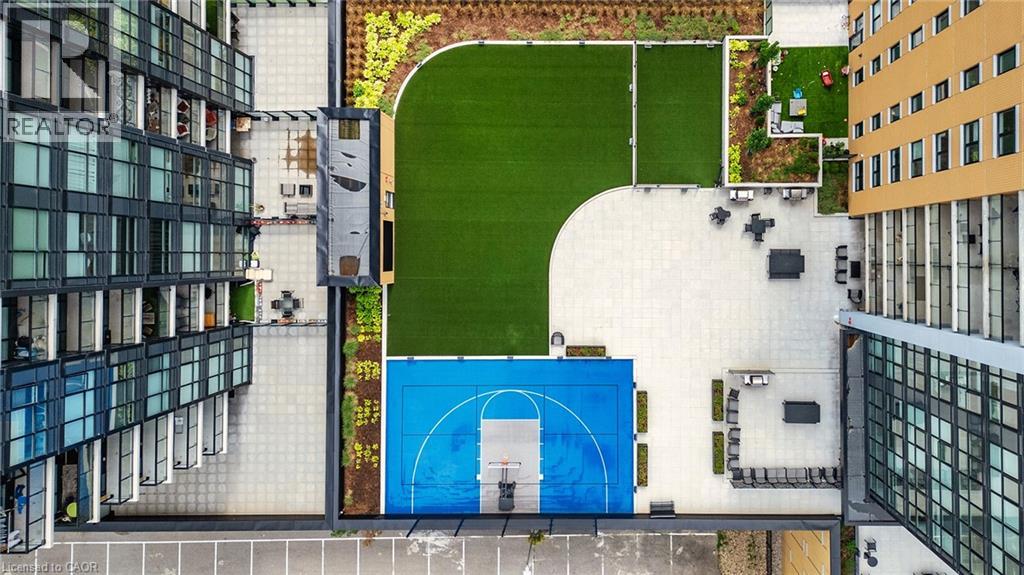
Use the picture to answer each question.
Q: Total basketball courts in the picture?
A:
1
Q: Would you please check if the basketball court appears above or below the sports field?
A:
below it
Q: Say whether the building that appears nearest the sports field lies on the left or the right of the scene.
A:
left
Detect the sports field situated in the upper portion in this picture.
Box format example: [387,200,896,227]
[388,39,633,356]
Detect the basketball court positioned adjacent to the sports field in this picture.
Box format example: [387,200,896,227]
[386,361,634,515]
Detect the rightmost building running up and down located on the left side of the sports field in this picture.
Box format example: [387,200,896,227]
[318,109,394,286]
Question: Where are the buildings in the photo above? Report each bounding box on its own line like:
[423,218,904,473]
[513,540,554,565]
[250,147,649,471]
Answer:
[318,109,394,286]
[0,0,254,559]
[833,0,1024,575]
